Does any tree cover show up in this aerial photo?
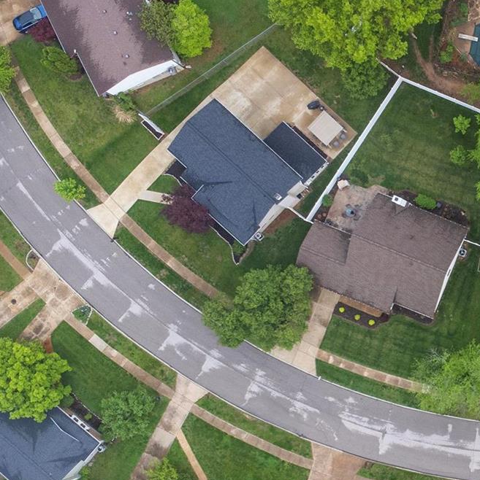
Yes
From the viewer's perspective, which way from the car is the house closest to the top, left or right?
on its right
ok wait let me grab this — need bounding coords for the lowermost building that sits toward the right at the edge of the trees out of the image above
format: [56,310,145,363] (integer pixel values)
[292,189,470,319]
